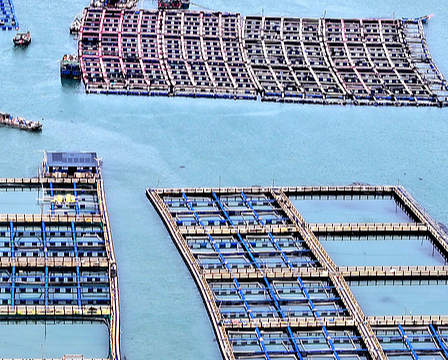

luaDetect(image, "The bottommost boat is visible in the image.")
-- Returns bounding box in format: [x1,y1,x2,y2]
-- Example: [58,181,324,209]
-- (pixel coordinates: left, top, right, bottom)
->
[0,108,46,129]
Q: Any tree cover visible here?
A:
No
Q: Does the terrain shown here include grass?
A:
No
